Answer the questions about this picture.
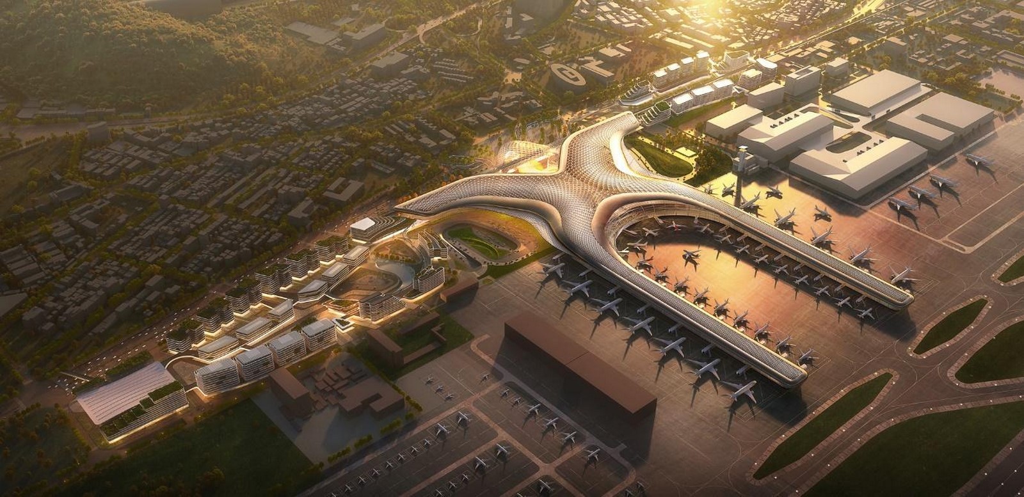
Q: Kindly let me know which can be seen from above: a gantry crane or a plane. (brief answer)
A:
plane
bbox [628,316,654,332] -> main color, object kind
gray airplane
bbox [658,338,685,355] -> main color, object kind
gray airplane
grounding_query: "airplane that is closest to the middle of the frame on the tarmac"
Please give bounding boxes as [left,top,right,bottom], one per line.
[541,262,566,276]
